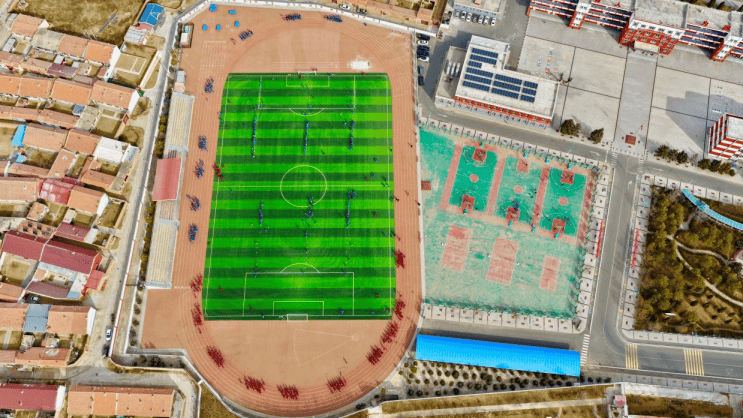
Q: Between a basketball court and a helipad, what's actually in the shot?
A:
basketball court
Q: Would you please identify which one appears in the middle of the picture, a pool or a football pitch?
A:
football pitch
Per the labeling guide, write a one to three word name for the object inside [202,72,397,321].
soccer field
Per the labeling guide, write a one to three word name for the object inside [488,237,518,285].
sports court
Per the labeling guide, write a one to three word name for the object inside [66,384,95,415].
house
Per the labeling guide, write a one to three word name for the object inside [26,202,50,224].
building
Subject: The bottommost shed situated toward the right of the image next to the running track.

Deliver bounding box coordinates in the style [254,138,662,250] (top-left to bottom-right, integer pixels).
[414,334,580,380]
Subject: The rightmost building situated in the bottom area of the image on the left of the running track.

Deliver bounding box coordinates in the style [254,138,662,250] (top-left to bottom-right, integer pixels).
[115,385,178,417]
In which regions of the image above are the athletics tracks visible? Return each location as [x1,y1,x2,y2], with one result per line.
[173,9,424,418]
